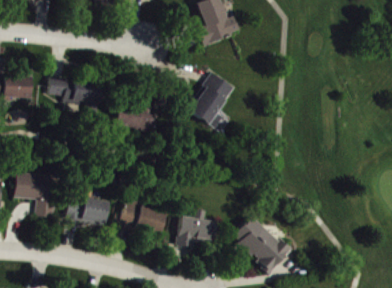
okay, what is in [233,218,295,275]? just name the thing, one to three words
house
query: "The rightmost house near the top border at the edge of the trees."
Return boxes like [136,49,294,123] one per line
[198,0,242,48]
